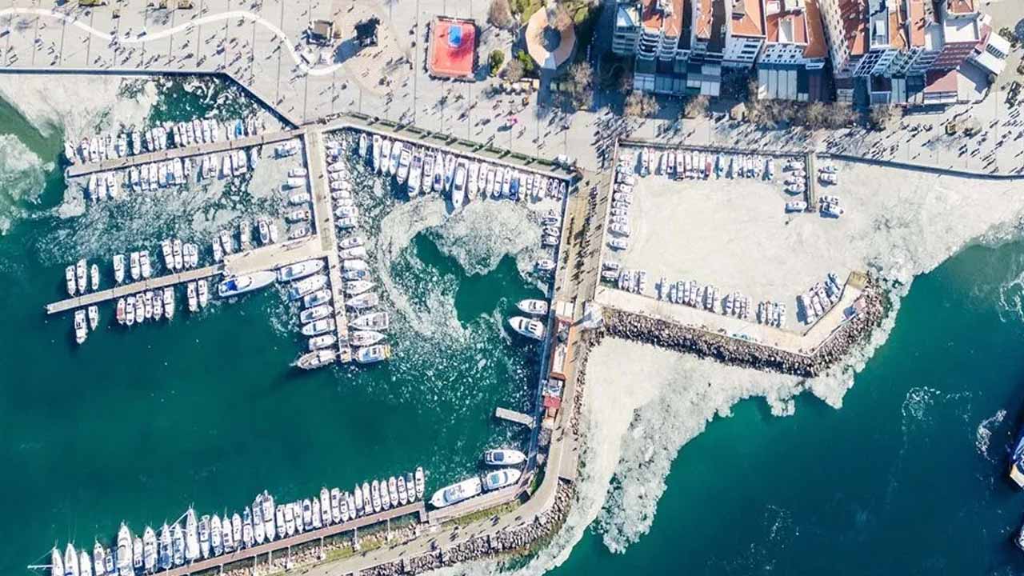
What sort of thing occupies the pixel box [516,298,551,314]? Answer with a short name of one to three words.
boat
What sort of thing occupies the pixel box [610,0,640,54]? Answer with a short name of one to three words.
building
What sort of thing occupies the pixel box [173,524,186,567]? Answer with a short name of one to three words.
boat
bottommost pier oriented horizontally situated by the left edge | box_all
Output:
[46,263,225,314]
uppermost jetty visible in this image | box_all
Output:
[66,130,309,179]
